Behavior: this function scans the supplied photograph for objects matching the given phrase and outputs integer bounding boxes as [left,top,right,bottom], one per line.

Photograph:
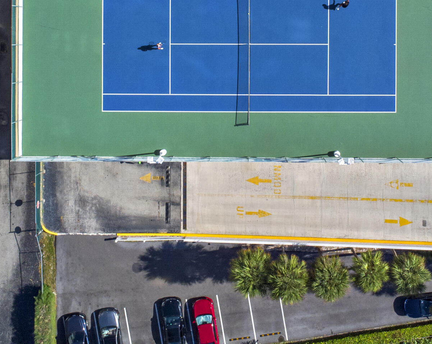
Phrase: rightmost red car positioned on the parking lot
[193,296,220,344]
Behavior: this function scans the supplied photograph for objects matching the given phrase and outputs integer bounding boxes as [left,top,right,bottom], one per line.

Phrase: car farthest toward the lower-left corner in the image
[67,312,92,344]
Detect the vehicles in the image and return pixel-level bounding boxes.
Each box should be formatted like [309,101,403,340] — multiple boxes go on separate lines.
[67,312,92,344]
[101,308,127,344]
[163,298,190,344]
[193,296,220,344]
[404,294,432,321]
